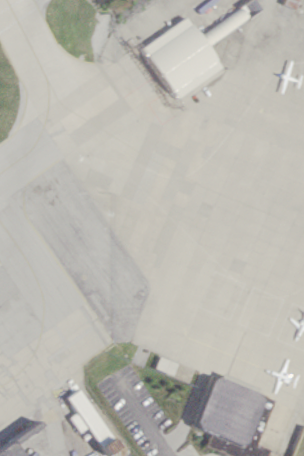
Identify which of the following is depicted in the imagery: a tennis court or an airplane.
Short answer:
airplane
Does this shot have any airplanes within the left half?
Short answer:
No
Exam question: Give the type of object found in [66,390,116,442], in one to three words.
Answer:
building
